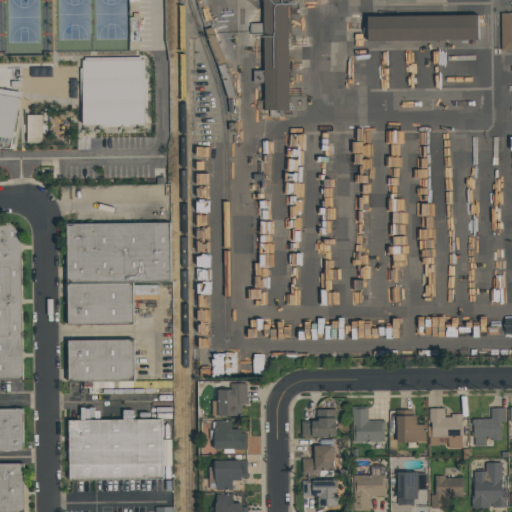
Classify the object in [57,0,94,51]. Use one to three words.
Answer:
basketball court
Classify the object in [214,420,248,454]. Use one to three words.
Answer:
house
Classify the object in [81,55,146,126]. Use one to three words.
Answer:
building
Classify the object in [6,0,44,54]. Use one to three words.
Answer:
basketball court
